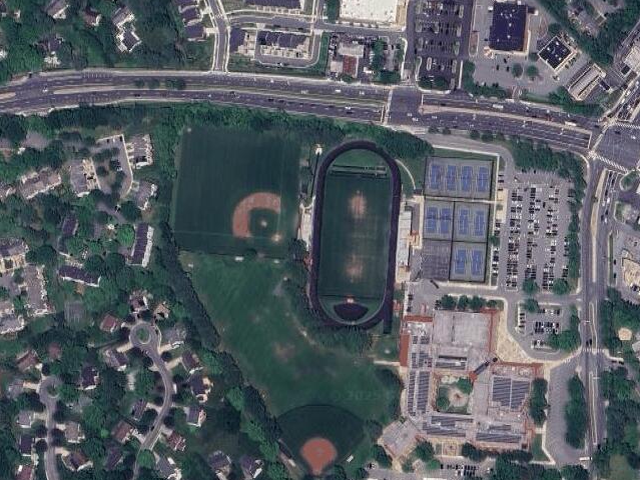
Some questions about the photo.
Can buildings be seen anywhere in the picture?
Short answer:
Yes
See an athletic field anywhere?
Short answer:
Yes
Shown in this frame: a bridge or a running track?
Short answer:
running track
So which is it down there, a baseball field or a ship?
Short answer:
baseball field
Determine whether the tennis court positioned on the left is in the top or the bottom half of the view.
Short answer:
bottom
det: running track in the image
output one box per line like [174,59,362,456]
[309,139,401,331]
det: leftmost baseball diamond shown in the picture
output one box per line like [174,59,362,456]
[175,128,303,258]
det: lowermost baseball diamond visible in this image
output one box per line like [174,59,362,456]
[281,405,364,475]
